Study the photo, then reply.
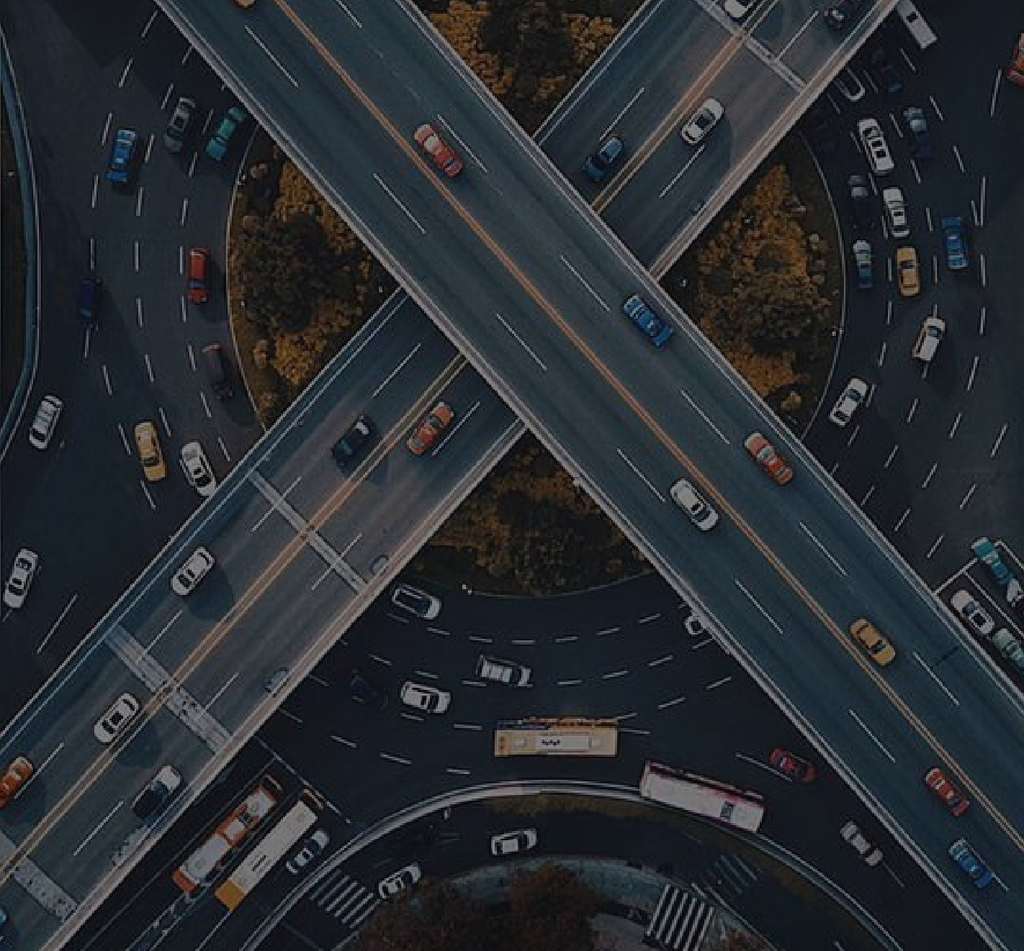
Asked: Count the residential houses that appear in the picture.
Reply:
0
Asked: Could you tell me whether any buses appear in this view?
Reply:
Yes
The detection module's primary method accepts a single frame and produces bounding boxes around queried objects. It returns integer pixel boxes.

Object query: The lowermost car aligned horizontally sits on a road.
[488,825,540,854]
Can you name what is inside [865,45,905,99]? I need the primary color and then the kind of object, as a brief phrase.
black car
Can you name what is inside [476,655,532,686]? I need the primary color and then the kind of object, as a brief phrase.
gray car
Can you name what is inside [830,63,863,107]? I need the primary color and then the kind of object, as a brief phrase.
black car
